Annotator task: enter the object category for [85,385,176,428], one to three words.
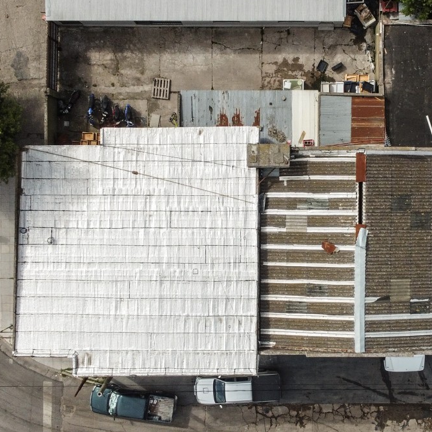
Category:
truck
